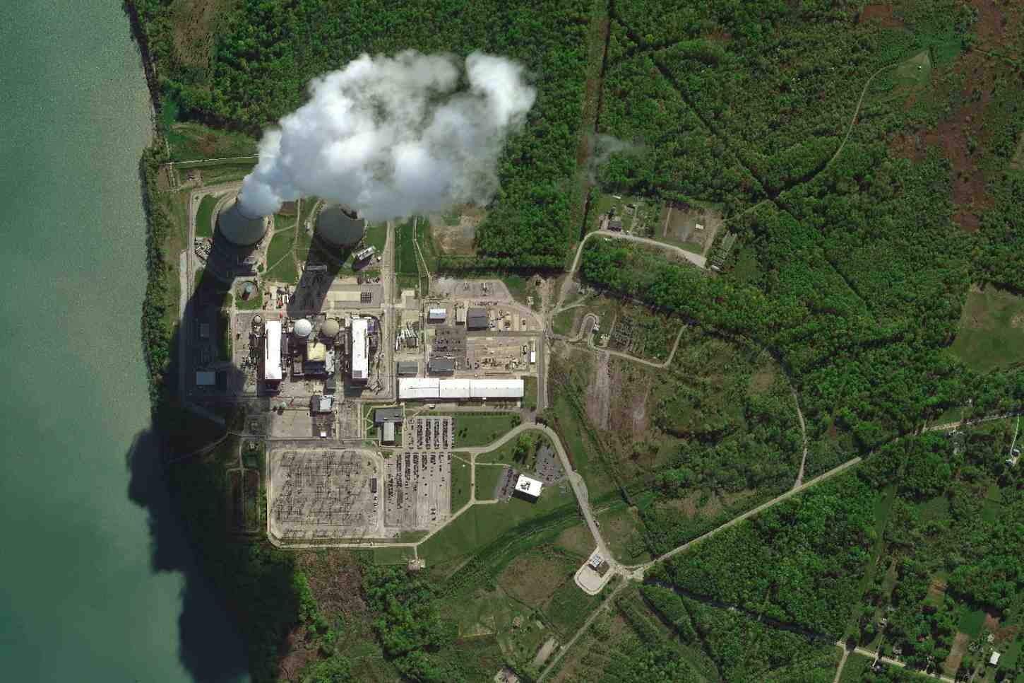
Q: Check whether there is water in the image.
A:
Yes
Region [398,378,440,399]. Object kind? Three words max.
building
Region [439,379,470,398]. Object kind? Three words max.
building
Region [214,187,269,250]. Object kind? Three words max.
cooling tower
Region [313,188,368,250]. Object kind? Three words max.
cooling tower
